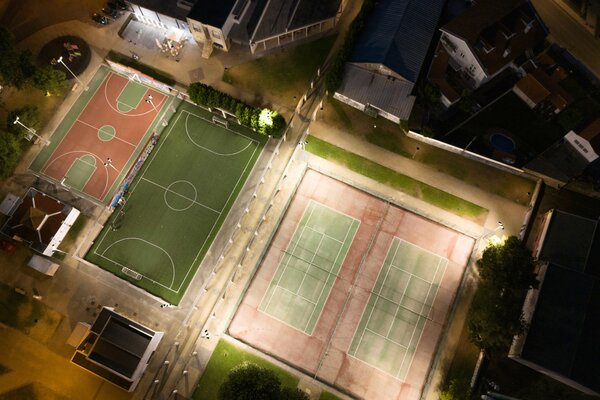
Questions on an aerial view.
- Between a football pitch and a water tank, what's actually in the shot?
football pitch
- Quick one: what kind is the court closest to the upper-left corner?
basketball court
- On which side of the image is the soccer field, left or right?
left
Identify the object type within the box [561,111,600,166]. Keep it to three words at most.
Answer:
house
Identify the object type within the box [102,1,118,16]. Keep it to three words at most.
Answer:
car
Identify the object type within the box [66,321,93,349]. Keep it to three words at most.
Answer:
shed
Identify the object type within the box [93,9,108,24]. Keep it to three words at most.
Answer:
car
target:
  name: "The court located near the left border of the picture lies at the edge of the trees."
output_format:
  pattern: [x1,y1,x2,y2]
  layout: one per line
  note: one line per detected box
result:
[29,66,175,206]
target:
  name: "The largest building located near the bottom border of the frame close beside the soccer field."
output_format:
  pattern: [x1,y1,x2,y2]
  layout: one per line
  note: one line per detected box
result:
[70,306,163,390]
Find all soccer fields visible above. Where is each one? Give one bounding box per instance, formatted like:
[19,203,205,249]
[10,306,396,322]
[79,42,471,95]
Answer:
[86,101,270,305]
